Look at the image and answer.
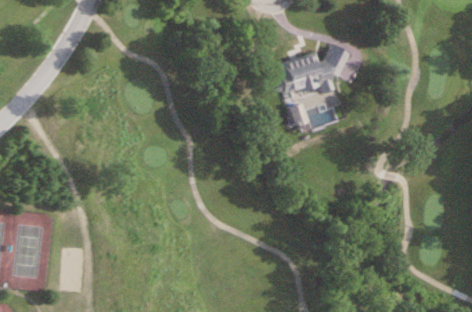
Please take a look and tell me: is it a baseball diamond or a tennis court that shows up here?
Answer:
tennis court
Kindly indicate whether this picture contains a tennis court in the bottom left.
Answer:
Yes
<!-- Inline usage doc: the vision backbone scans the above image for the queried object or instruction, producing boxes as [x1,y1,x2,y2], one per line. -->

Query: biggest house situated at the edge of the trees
[281,44,354,101]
